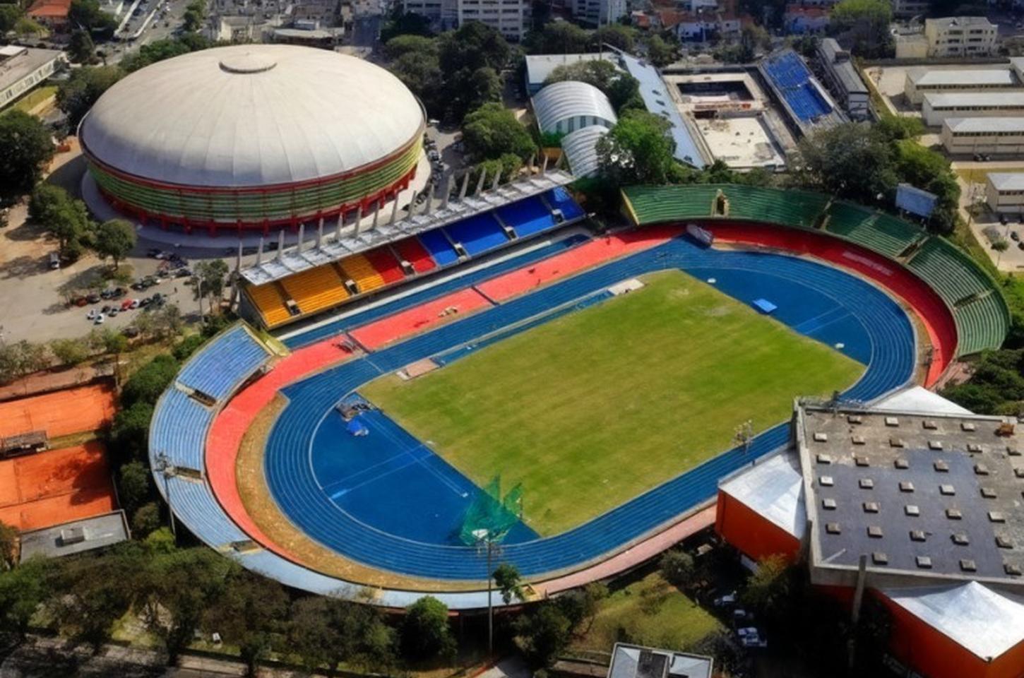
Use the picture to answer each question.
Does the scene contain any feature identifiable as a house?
Yes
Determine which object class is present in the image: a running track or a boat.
running track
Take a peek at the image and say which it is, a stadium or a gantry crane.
stadium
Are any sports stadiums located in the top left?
Yes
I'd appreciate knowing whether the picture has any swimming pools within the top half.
Yes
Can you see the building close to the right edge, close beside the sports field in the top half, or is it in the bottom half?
bottom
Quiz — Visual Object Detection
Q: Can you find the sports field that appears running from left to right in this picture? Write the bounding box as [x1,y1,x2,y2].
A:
[357,267,865,536]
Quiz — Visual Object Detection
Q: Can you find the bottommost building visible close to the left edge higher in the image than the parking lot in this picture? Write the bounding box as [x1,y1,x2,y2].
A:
[0,42,64,108]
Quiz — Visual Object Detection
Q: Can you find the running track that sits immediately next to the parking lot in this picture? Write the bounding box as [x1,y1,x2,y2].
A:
[264,248,914,579]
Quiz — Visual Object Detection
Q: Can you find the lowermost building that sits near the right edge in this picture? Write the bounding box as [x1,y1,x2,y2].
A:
[717,388,1024,678]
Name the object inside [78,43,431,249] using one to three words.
stadium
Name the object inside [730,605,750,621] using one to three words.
car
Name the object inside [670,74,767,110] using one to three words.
swimming pool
